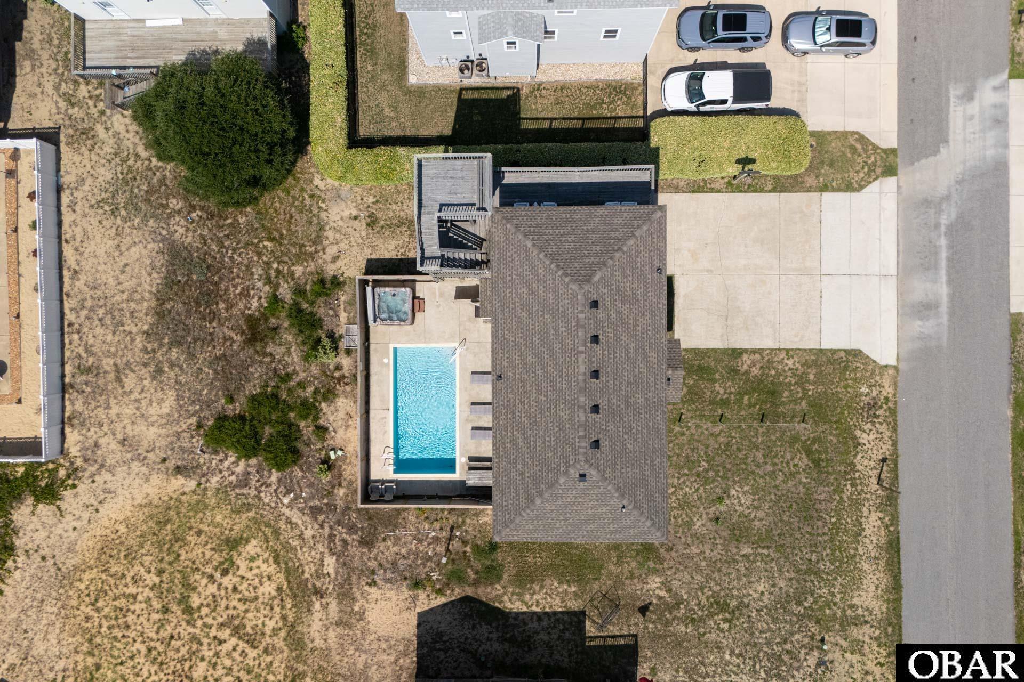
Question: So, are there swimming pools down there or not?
Yes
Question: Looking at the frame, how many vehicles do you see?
3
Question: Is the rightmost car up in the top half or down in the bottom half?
top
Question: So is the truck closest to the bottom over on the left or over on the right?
right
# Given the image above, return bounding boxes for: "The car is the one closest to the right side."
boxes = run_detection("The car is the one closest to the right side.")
[781,10,875,59]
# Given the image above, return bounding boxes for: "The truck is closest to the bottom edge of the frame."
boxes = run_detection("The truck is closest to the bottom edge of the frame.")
[659,65,773,114]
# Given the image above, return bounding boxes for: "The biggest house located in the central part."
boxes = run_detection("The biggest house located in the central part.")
[479,203,685,544]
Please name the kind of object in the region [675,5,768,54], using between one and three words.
car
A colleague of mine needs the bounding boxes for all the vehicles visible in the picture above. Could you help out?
[659,65,773,114]
[675,5,768,54]
[781,10,875,59]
